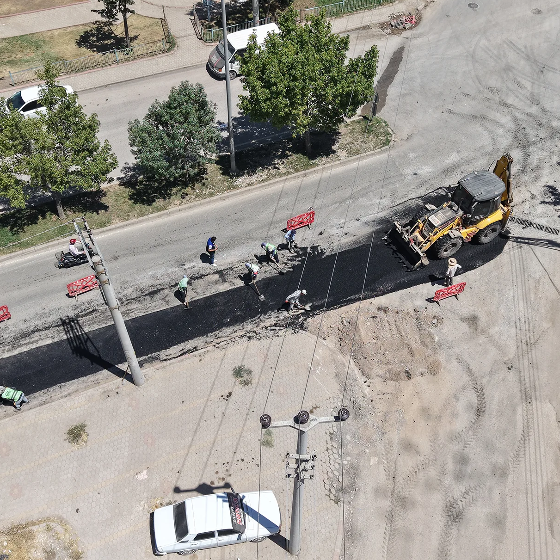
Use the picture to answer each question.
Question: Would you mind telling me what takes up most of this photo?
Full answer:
What you mostly see from above here is paved ground.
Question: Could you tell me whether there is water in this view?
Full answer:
No, the scene doesn't show any water.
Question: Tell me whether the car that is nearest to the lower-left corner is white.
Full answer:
Yes, the car that is nearest to the lower-left corner is indeed white.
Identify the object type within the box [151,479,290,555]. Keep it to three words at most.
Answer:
car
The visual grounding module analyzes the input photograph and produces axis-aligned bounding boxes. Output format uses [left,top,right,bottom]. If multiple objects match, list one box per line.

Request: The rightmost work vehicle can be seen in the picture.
[384,156,524,270]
